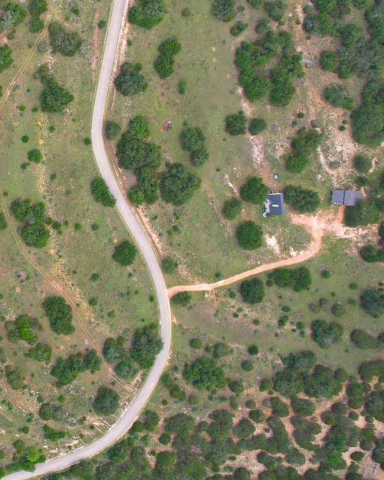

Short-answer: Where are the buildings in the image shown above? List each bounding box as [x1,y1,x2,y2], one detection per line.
[328,190,360,206]
[265,192,284,216]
